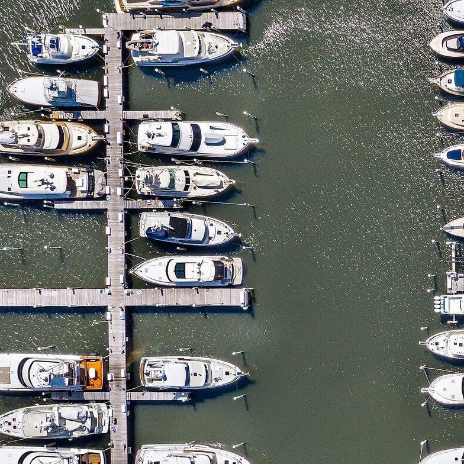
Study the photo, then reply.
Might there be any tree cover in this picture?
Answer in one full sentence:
No, no tree cover is visible.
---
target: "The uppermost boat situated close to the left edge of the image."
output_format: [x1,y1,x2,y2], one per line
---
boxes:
[15,31,103,66]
